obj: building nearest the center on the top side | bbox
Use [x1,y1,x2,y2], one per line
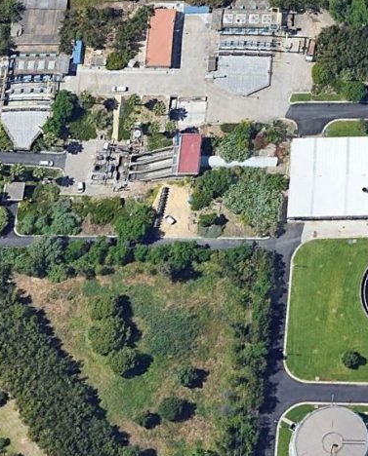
[178,134,204,180]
